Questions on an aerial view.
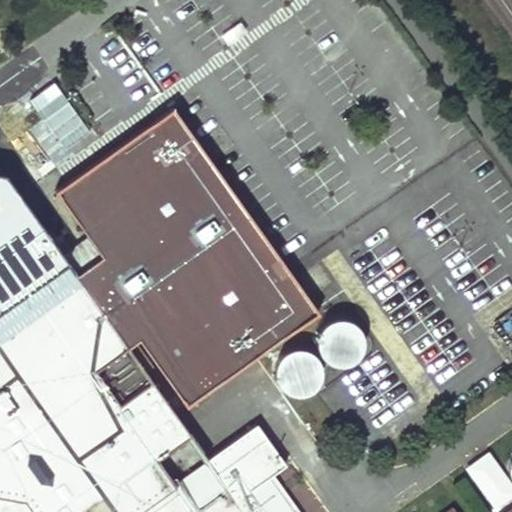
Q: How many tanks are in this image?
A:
two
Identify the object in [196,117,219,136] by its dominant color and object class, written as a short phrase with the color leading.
white vehicle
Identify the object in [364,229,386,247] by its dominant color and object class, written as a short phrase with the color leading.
white car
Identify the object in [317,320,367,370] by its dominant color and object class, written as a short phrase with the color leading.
white storage tank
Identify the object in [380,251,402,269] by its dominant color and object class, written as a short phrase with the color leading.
white car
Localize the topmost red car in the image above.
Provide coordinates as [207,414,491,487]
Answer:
[161,72,181,89]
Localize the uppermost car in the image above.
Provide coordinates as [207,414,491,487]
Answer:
[176,1,198,19]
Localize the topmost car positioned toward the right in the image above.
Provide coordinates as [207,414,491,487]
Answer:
[317,32,340,50]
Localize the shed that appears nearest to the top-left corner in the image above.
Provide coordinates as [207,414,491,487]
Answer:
[31,84,90,157]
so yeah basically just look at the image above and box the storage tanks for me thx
[276,350,325,400]
[317,320,367,370]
